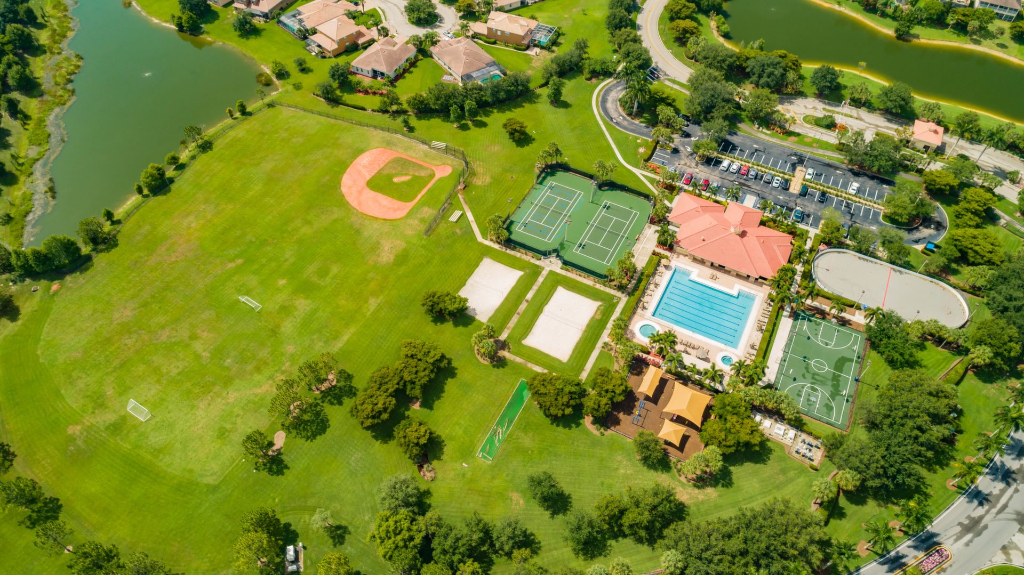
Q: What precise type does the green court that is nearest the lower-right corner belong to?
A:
basketball court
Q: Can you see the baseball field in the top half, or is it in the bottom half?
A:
top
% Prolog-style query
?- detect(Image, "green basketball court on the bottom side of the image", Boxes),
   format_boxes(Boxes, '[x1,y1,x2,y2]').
[770,308,867,432]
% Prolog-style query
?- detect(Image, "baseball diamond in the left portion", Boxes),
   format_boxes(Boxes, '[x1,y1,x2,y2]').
[341,148,453,220]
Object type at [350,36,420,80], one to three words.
house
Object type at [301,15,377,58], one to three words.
house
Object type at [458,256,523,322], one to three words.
sports court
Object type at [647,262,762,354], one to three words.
swimming pool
